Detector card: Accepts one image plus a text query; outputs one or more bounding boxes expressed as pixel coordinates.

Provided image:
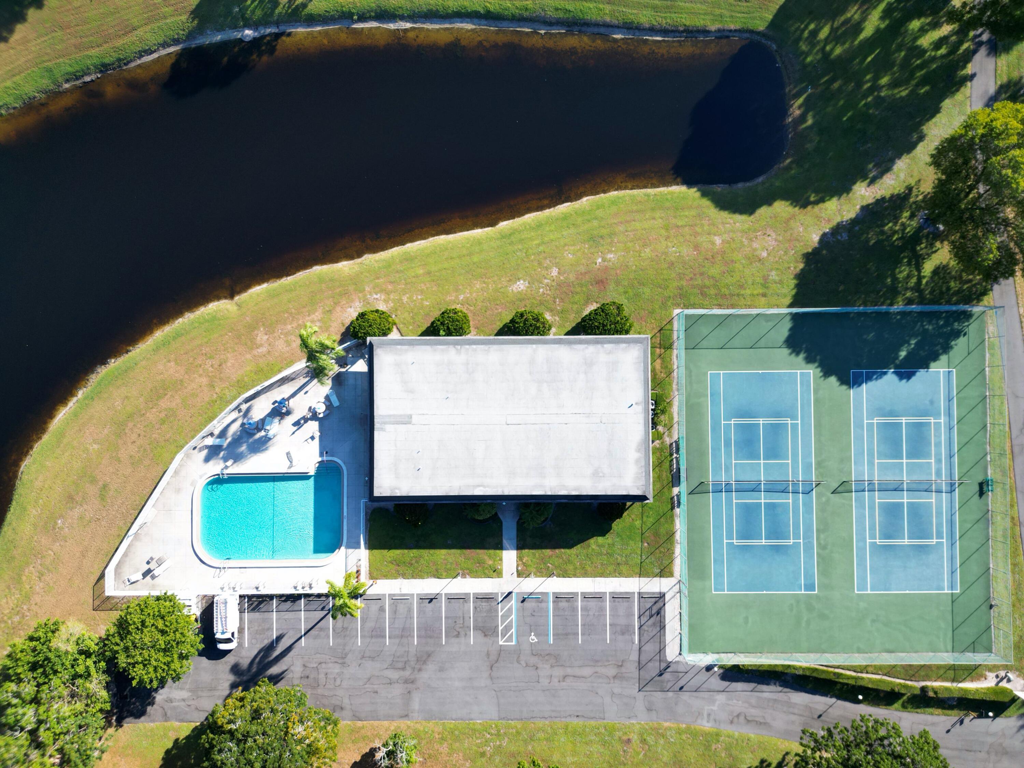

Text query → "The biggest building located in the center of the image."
[365,335,652,505]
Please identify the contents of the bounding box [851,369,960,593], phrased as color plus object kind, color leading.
blue tennis court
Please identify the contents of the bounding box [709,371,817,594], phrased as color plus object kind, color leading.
blue tennis court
